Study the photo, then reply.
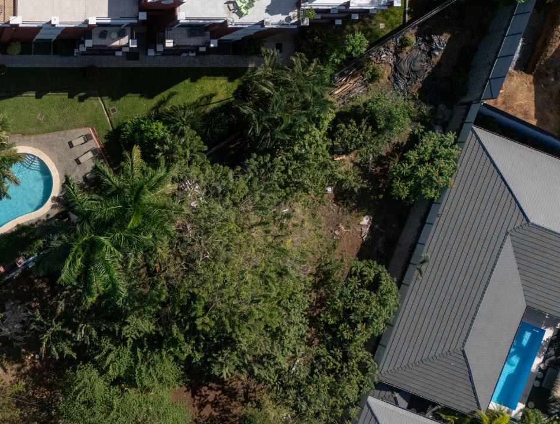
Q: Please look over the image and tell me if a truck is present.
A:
No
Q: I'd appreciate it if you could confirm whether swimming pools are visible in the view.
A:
Yes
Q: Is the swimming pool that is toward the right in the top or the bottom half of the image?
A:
bottom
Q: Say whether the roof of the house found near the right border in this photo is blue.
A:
No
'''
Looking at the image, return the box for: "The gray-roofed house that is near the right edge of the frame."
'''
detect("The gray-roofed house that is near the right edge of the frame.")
[378,125,560,415]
